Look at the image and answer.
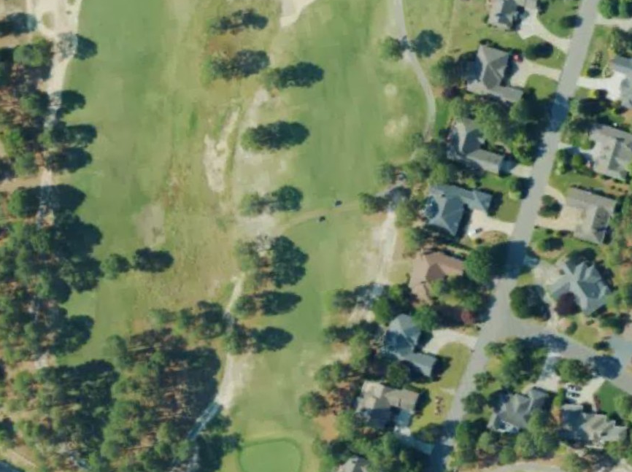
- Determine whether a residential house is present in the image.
Yes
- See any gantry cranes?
No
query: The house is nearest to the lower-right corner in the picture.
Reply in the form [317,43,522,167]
[556,400,631,451]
